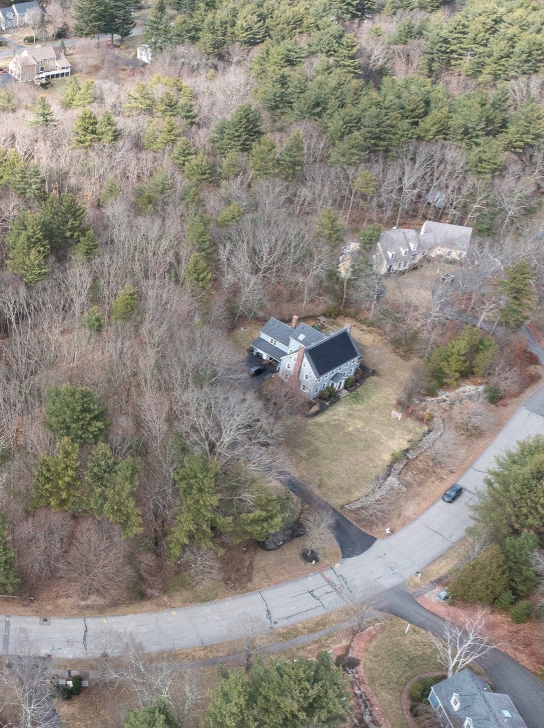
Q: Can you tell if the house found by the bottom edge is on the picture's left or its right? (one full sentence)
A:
The house found by the bottom edge appears in the right half of the scene.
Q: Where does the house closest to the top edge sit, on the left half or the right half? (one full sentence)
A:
The house closest to the top edge sits on the left side.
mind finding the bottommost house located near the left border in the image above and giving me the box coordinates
[16,42,71,80]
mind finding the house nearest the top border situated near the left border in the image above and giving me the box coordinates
[0,0,46,28]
